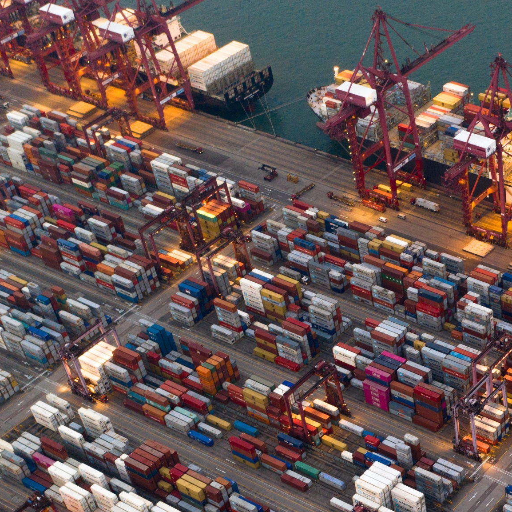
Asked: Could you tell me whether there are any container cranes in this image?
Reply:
Yes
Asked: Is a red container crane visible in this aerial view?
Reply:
Yes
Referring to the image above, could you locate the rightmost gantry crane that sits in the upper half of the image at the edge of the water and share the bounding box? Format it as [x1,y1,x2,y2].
[426,56,512,249]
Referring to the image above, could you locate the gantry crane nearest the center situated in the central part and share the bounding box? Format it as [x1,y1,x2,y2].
[192,228,252,300]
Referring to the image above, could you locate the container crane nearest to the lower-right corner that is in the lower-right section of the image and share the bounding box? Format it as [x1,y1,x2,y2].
[452,375,504,458]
